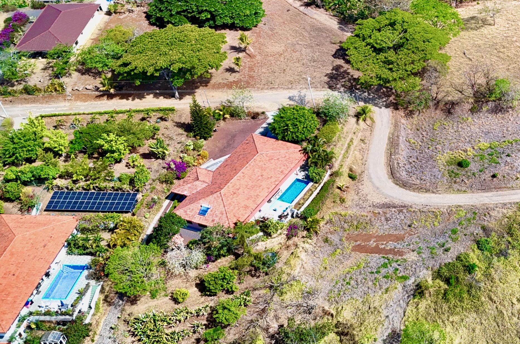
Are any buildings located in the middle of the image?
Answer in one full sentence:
Yes, looking in the middle of the image, one can make out a building.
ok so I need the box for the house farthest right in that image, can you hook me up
[162,136,306,232]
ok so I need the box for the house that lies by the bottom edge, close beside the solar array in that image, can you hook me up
[0,220,77,342]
